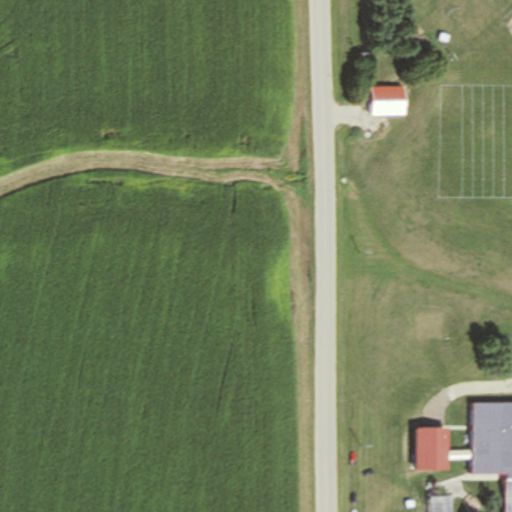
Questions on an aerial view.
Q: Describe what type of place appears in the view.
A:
farmland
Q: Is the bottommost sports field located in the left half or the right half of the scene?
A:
right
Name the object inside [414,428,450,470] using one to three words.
building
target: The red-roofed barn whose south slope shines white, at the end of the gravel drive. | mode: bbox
[370,86,408,116]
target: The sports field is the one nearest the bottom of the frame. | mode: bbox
[438,84,512,198]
